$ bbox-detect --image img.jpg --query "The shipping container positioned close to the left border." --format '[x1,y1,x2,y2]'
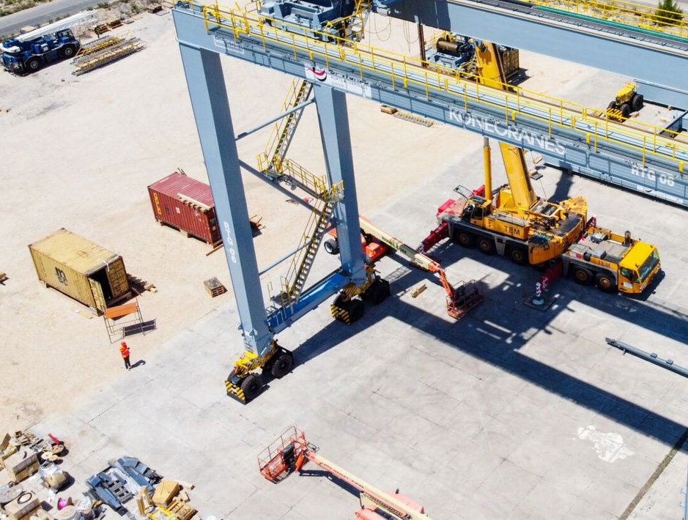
[30,228,131,315]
